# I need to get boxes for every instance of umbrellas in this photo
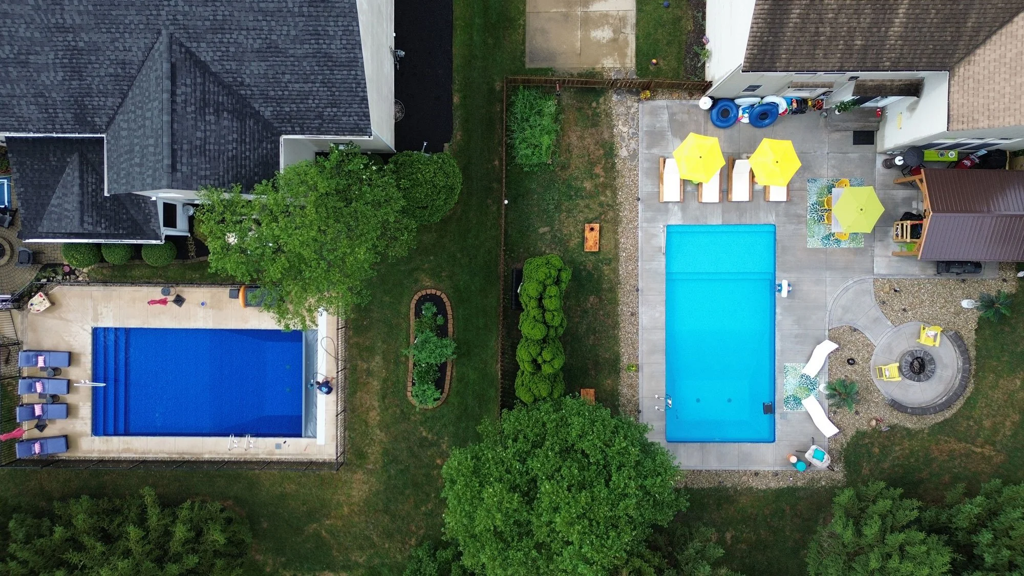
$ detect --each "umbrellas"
[747,139,800,186]
[148,294,185,307]
[826,187,883,233]
[0,423,49,440]
[671,134,724,185]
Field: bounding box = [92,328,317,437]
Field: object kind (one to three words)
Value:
swimming pool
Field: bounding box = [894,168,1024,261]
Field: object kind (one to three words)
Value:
building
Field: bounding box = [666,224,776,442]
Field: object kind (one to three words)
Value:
swimming pool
